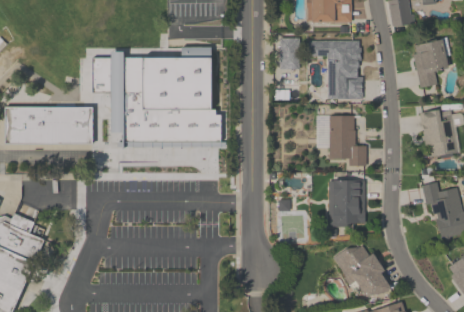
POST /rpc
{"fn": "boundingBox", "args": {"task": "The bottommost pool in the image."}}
[327,282,348,300]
